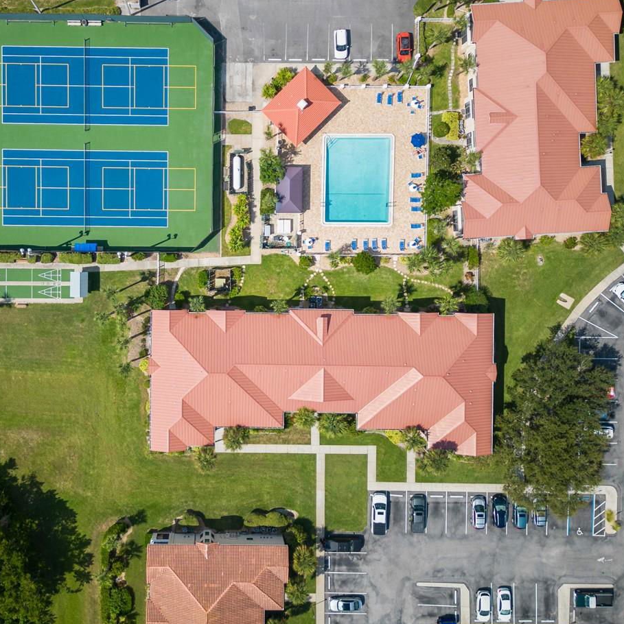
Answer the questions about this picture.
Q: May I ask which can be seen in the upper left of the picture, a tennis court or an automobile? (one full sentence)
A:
The feature located in the upper left of the picture is a tennis court.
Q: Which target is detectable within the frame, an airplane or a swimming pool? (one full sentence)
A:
Visible in the photo is a swimming pool.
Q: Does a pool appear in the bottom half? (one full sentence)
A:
No, no pool can be made out in the bottom half.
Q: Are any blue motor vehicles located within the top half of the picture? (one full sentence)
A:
No, I see no blue motor vehicle within the top half of the picture.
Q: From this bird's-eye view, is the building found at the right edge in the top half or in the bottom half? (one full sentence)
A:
It is in the top half that the building found at the right edge appears.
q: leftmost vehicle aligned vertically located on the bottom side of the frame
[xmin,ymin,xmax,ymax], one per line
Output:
[372,493,391,537]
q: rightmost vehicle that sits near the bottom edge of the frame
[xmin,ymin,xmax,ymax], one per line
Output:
[576,592,616,611]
